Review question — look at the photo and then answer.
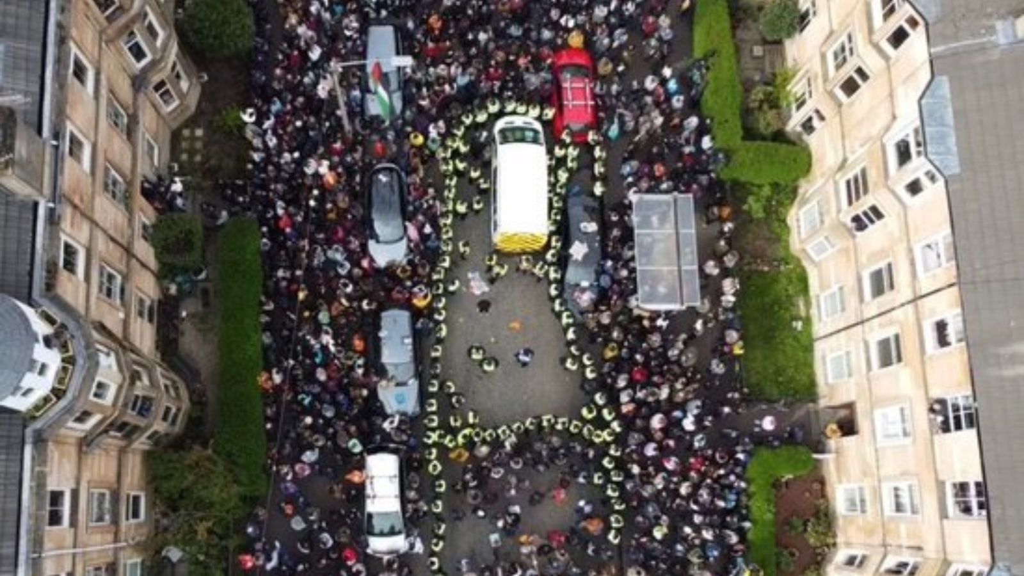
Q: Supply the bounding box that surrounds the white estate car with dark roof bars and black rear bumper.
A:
[358,447,413,559]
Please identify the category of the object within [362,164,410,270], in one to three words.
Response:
car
